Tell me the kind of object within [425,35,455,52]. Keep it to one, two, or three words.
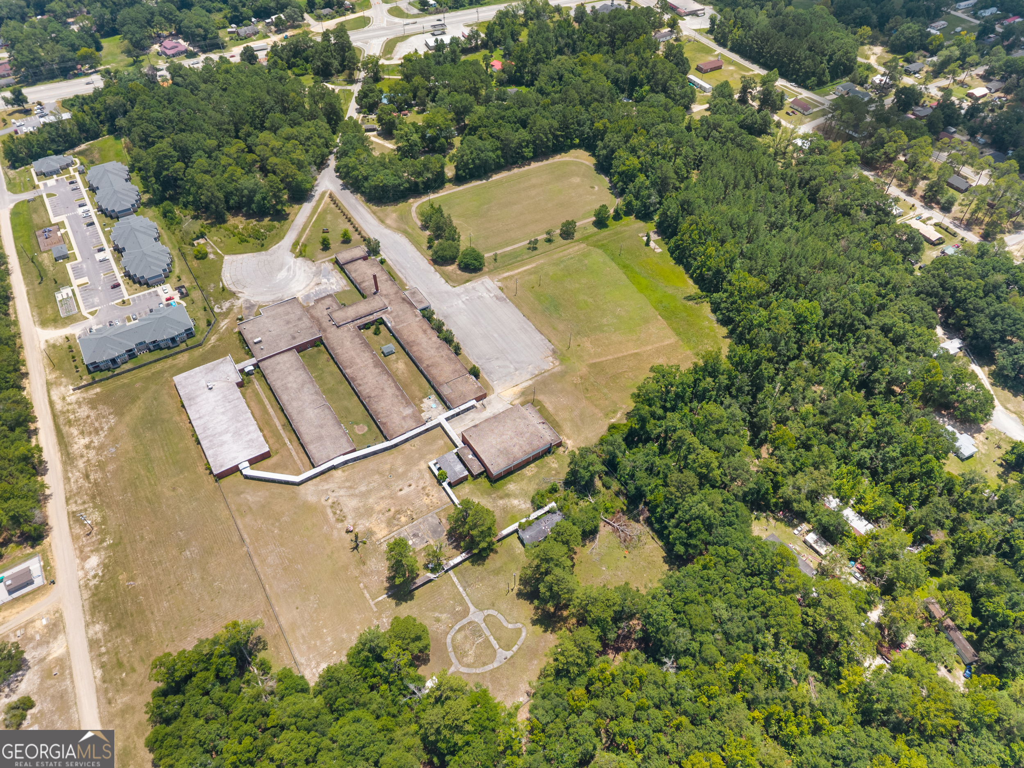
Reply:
building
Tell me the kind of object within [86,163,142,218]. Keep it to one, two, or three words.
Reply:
building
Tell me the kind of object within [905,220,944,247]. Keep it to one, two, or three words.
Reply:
house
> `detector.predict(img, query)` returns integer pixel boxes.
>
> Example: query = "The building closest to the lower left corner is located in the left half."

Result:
[2,564,37,586]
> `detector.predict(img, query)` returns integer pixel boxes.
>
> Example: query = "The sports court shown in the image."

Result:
[397,514,446,549]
